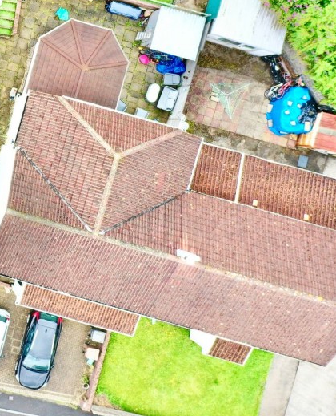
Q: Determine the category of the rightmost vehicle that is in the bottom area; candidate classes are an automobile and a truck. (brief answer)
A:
automobile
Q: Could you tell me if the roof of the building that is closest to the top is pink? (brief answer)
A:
No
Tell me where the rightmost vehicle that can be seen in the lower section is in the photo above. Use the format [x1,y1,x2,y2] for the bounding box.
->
[16,310,68,395]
